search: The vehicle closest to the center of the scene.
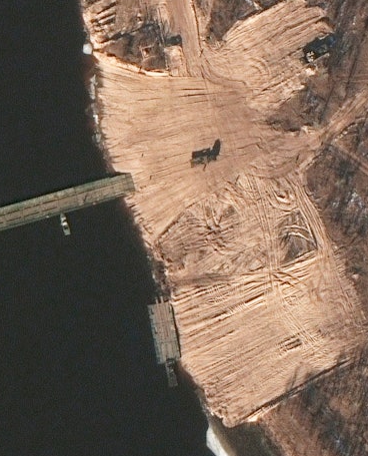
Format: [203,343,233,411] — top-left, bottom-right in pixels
[189,153,217,169]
